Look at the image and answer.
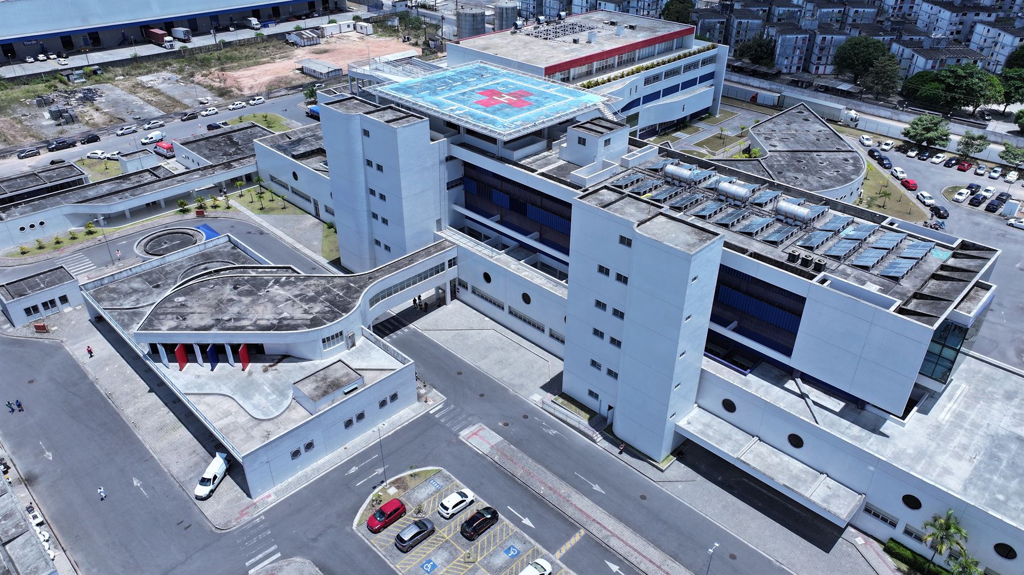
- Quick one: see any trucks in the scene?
Yes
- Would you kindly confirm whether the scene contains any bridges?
Yes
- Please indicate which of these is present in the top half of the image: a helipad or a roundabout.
helipad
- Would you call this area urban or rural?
urban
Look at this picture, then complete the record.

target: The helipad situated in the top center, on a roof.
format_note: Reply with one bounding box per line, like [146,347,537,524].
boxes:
[363,59,642,157]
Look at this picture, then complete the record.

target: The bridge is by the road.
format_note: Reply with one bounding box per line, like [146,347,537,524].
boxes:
[361,256,457,331]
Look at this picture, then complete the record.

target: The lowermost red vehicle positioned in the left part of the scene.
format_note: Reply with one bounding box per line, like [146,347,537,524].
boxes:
[365,497,408,535]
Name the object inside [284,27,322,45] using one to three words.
shed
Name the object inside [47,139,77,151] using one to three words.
vehicle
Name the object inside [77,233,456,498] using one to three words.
building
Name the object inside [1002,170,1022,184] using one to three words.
car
